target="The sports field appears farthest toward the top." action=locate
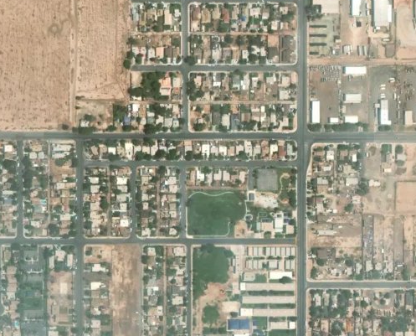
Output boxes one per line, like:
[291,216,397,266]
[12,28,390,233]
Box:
[184,191,251,239]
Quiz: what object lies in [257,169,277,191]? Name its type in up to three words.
sports court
